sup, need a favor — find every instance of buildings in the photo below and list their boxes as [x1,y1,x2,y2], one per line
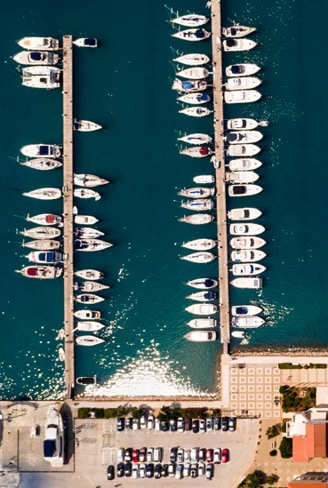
[287,405,328,463]
[288,478,328,488]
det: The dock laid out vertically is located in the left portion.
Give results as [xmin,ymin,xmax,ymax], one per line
[65,34,77,400]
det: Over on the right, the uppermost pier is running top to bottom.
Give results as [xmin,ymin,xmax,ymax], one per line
[212,0,231,357]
